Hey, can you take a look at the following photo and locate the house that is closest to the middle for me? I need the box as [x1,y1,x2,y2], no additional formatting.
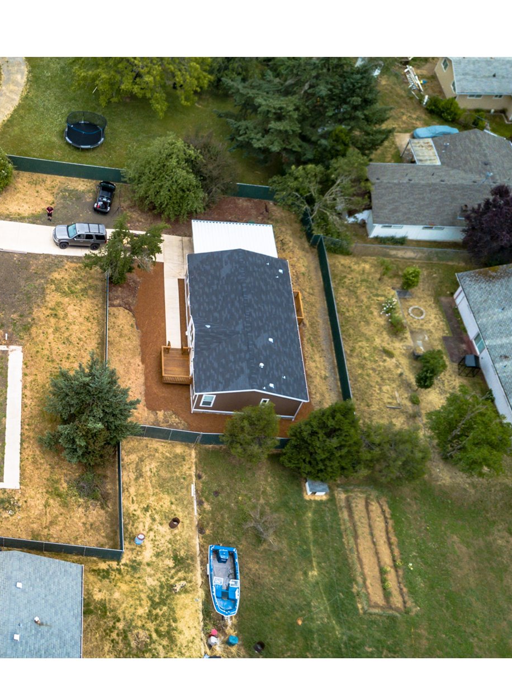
[183,248,311,422]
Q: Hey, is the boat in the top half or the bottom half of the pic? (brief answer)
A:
bottom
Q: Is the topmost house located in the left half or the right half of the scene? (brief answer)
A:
right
